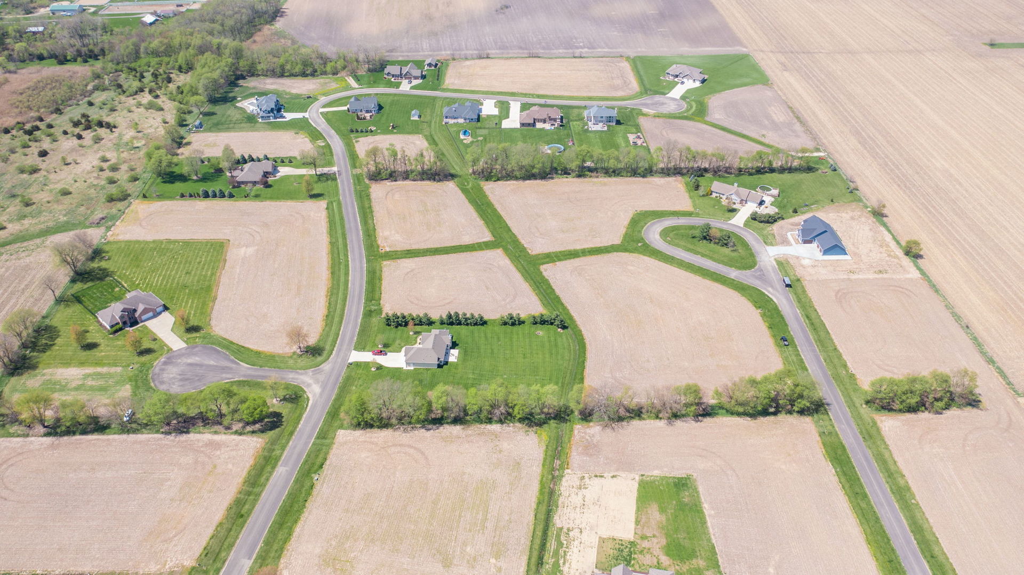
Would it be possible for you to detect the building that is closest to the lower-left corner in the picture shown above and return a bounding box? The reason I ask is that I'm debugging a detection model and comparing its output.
[94,289,167,330]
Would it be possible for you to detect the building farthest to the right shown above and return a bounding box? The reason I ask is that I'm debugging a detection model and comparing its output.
[789,214,851,255]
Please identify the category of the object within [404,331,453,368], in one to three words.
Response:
house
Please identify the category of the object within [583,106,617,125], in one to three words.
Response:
house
